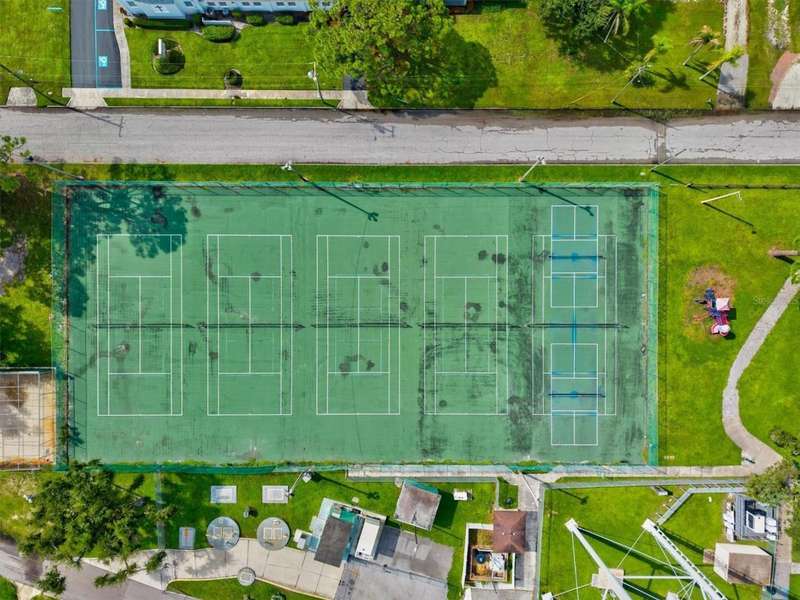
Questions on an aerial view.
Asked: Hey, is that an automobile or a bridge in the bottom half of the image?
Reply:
bridge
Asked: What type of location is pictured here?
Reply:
sports ground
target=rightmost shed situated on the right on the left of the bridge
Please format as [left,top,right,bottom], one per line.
[491,508,527,553]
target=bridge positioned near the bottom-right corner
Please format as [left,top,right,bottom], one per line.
[653,484,752,525]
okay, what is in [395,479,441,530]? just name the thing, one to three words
shed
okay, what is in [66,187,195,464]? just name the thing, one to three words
tennis court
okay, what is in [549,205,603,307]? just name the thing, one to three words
sports court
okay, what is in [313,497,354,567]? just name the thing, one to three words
building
